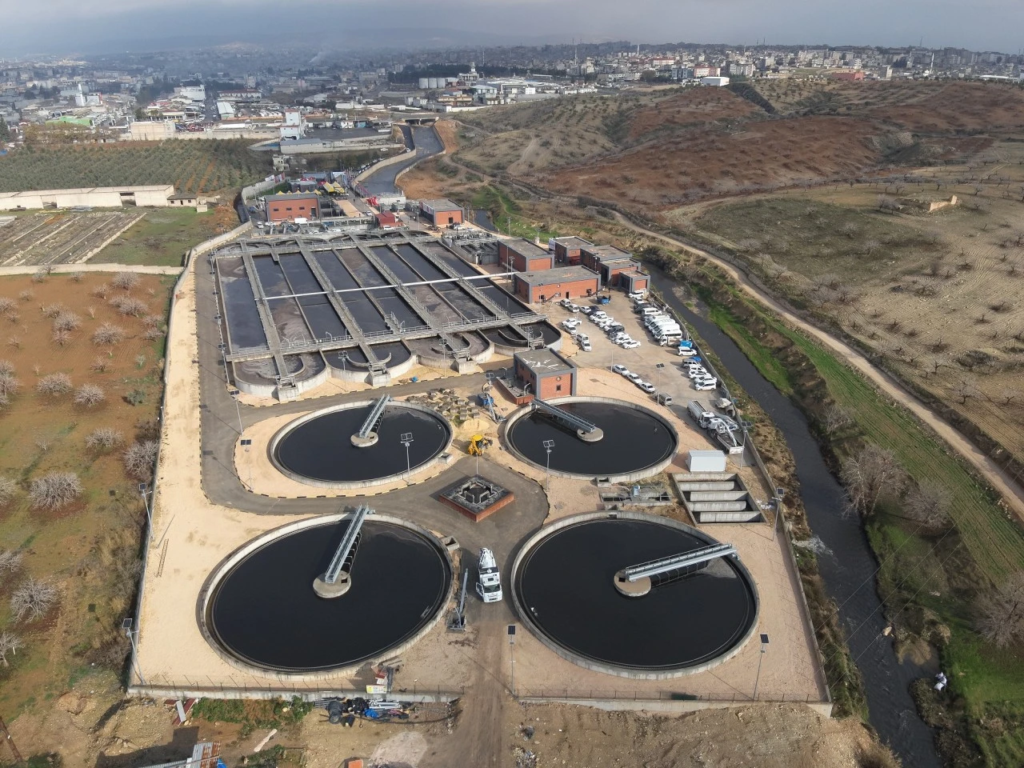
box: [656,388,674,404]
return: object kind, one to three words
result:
car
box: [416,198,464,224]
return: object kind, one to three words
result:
building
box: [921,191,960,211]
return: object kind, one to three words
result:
house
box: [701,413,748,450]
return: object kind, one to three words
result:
truck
